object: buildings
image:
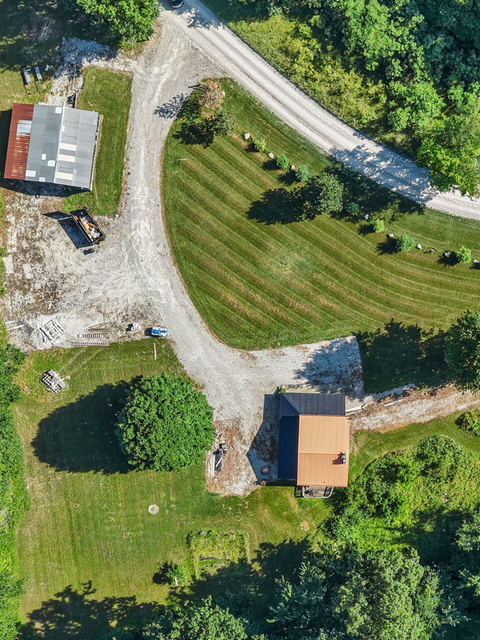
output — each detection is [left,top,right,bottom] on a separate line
[277,392,349,487]
[5,103,102,190]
